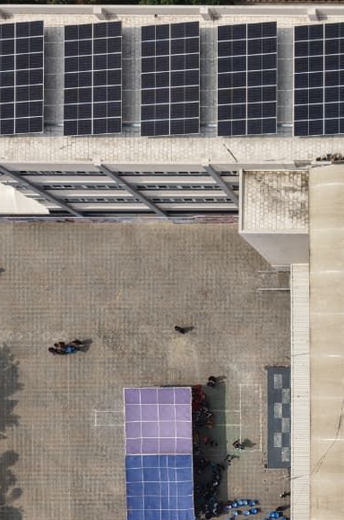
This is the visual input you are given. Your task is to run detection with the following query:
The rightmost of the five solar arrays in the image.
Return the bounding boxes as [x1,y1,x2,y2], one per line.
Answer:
[295,22,344,142]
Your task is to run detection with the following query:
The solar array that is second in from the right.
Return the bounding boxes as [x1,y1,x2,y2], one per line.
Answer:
[217,21,278,142]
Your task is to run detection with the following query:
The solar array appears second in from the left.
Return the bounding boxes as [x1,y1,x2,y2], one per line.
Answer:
[65,21,128,142]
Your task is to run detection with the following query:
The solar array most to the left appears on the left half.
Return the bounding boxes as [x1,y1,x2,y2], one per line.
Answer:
[0,21,52,142]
